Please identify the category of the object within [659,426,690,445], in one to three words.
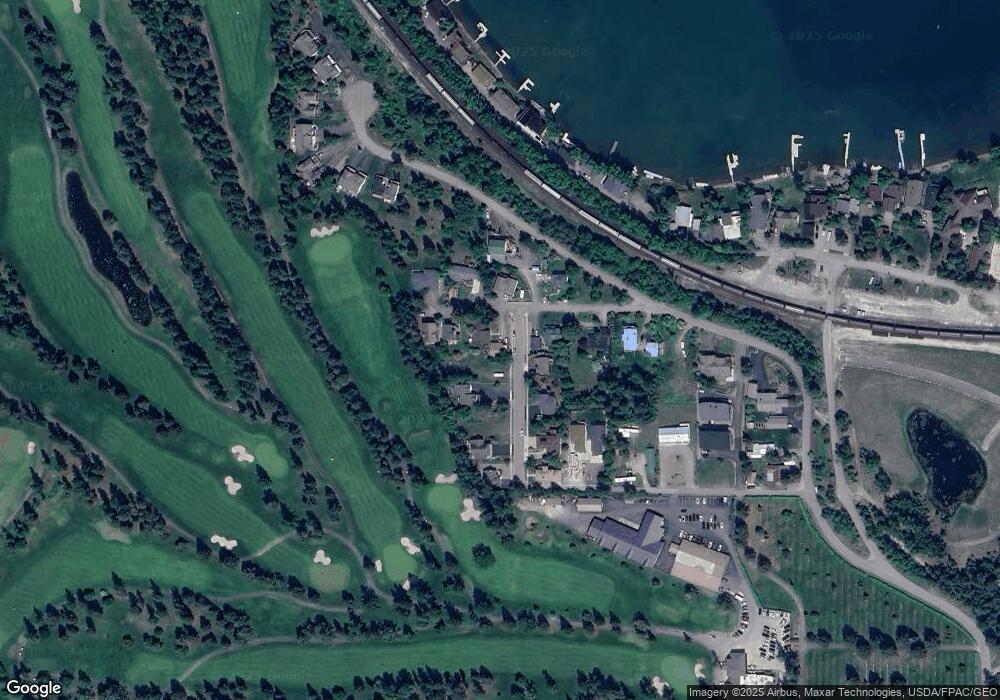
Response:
barn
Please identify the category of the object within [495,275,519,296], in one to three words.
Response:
house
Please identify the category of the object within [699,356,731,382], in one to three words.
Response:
house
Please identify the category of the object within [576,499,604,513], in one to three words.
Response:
building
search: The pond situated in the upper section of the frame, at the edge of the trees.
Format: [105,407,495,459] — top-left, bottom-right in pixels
[66,171,152,325]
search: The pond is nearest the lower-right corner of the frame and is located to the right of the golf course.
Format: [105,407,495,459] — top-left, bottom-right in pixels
[907,407,987,515]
